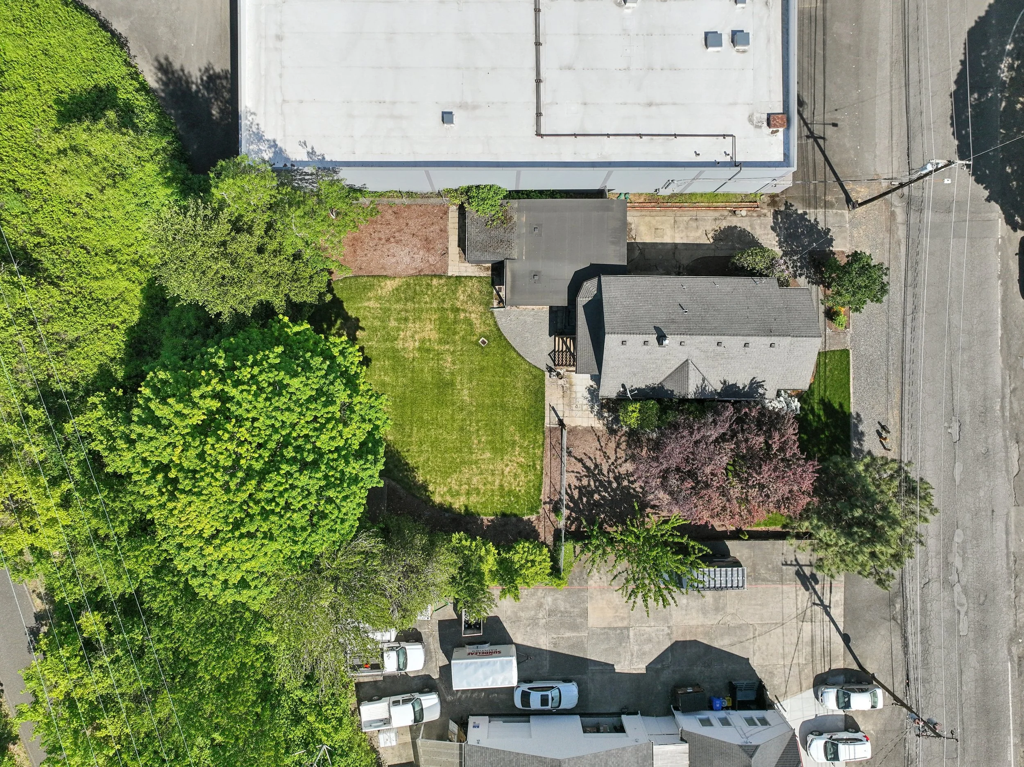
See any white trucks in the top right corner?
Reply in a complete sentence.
No, the scene shows no white truck in the top right corner.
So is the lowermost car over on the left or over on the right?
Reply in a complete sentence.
You can find the lowermost car on the right side of the picture.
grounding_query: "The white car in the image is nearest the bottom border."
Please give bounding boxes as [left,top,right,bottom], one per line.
[809,729,873,764]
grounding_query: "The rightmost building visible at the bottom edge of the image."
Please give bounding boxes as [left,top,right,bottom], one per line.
[671,706,794,767]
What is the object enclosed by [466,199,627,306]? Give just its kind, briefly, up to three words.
building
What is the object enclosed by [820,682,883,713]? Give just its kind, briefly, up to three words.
car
